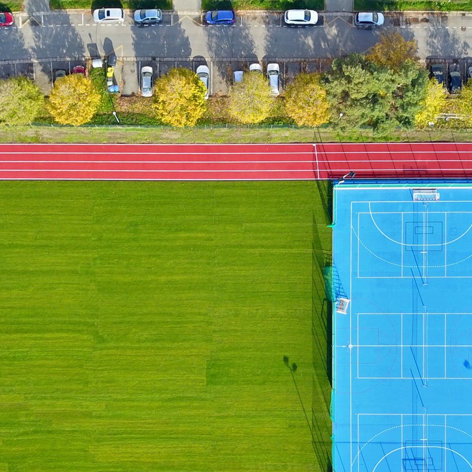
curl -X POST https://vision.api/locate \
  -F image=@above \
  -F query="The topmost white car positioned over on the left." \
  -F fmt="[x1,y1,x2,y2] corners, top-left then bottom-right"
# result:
[94,7,123,23]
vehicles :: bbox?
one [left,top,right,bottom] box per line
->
[285,8,318,25]
[231,70,244,95]
[354,11,384,28]
[134,9,162,24]
[140,66,154,97]
[206,10,234,25]
[195,66,210,99]
[430,64,446,92]
[266,64,282,96]
[448,64,463,94]
[248,64,263,92]
[94,7,123,23]
[0,11,13,26]
[466,67,472,85]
